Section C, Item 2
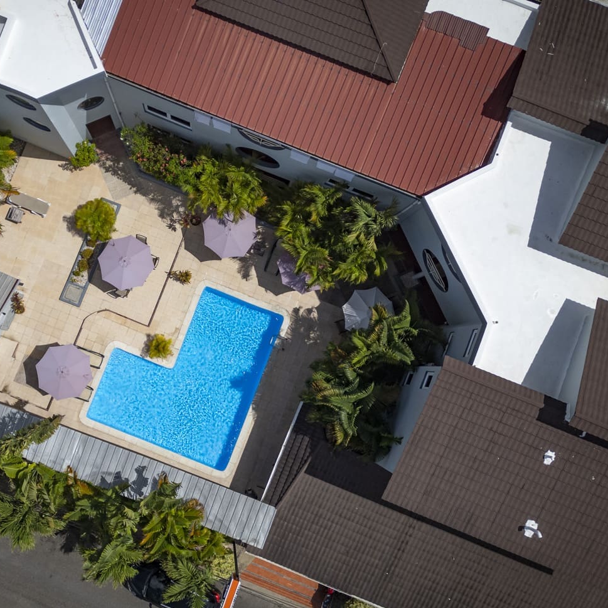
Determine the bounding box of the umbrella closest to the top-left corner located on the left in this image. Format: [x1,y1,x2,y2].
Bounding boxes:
[99,236,158,294]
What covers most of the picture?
buildings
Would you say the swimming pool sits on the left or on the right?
left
